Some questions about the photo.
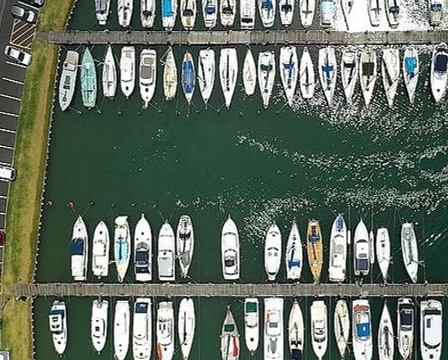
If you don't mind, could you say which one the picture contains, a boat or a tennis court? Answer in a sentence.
The image shows a boat.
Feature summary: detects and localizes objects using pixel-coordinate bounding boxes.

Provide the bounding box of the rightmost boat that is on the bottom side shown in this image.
[419,298,442,360]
